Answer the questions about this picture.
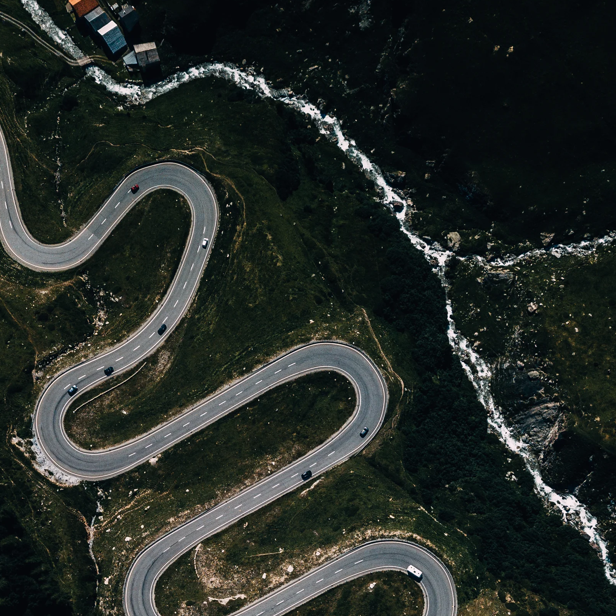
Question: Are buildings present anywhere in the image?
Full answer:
Yes, looking at the shot, I can spot a building.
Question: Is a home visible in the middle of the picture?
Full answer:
No, looking in the middle of the picture, there is no home.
